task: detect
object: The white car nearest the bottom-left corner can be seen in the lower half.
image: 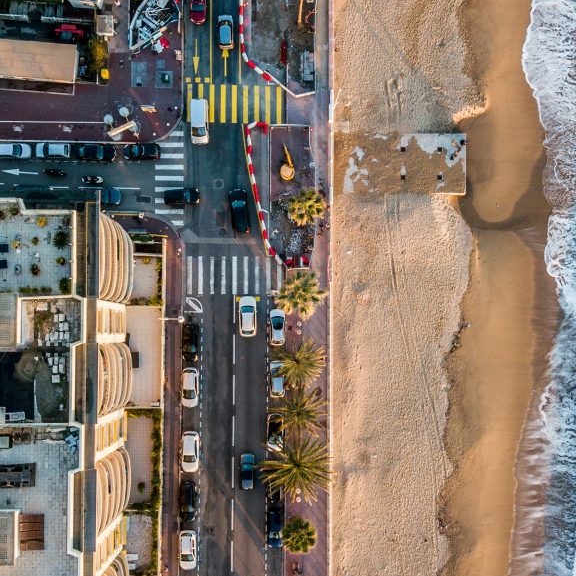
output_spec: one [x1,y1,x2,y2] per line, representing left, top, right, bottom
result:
[179,529,198,569]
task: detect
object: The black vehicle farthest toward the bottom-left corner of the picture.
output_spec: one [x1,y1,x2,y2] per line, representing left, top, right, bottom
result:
[179,481,198,521]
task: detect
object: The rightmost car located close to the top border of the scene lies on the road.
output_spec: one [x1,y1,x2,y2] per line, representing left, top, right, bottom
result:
[217,17,235,49]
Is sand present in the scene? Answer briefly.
Yes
